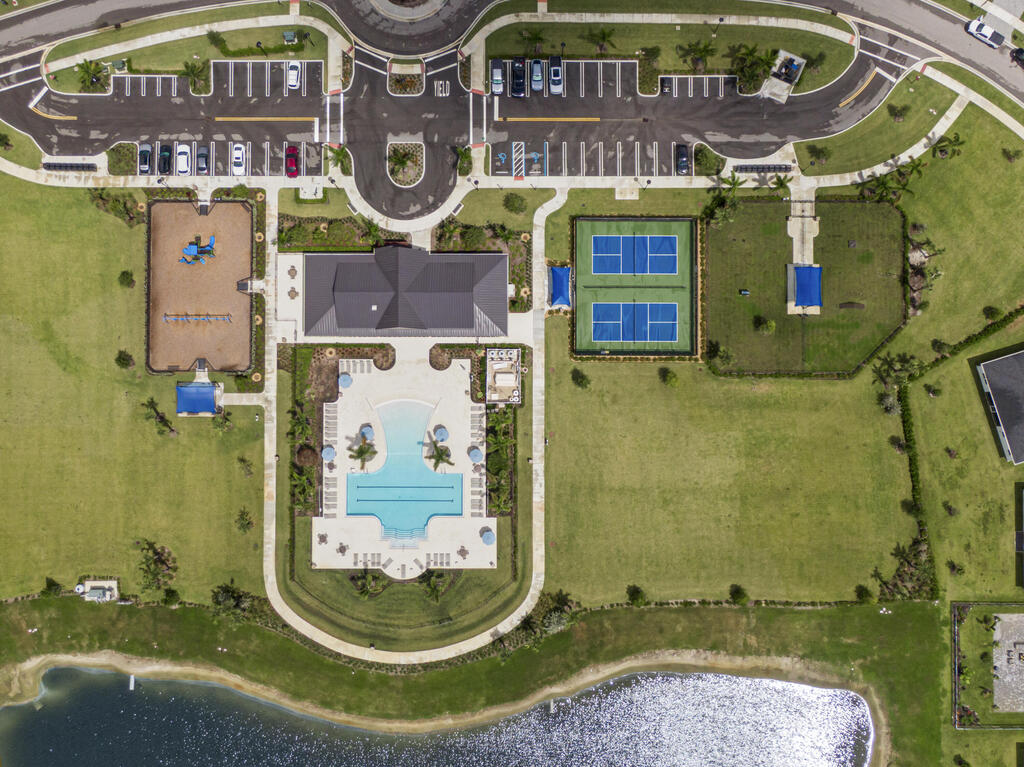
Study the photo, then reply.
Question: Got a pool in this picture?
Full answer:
Yes, the photo shows a pool.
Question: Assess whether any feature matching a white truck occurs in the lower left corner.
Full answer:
No, no white truck is visible in the lower left corner.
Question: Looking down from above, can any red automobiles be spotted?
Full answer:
Yes, this view includes a red automobile.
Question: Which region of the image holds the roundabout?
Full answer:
You can find the roundabout in the top area of the picture.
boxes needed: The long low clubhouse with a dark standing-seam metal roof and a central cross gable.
[304,245,509,337]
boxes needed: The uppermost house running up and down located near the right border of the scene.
[976,352,1024,465]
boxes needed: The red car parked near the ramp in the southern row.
[284,147,300,178]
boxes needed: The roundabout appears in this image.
[330,0,486,56]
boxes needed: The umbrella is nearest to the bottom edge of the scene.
[482,530,496,545]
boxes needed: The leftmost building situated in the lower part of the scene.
[84,587,116,601]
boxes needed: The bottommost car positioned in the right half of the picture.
[676,145,691,176]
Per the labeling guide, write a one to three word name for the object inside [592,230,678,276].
sports court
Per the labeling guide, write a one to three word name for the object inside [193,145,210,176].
car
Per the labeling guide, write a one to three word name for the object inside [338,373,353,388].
umbrella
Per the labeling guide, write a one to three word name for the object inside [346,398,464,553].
swimming pool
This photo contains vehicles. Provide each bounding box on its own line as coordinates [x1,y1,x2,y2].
[193,145,210,176]
[156,144,173,176]
[135,144,153,175]
[285,60,302,91]
[530,61,545,92]
[967,18,1007,49]
[660,76,671,94]
[489,61,505,93]
[174,145,191,176]
[230,144,246,175]
[548,57,564,96]
[676,145,691,176]
[510,58,526,97]
[284,147,300,178]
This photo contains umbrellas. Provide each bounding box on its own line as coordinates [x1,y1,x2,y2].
[482,530,496,545]
[434,426,449,441]
[469,448,483,462]
[360,425,374,440]
[338,373,353,388]
[322,447,336,461]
